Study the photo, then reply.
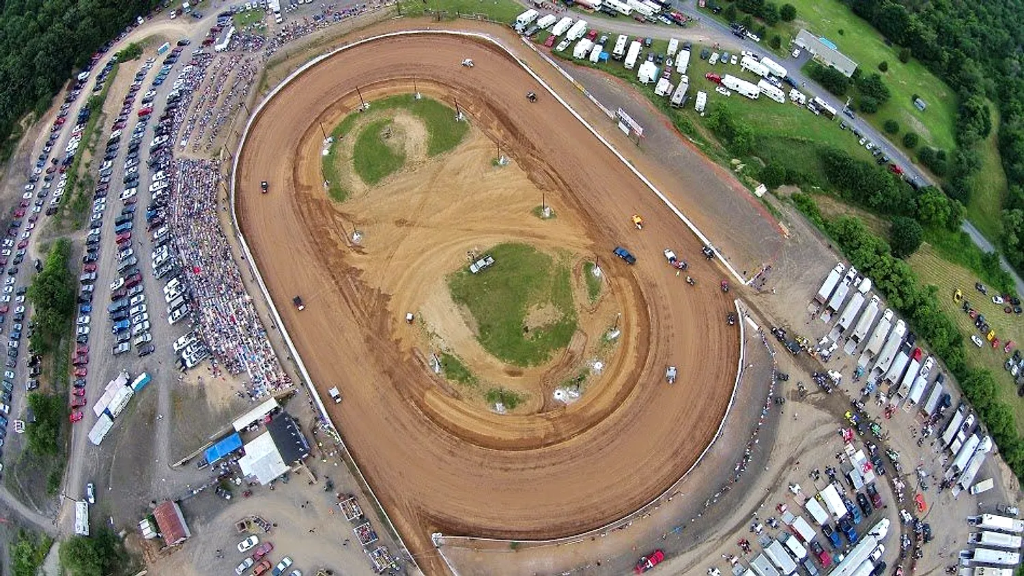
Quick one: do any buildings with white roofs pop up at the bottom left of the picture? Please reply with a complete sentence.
Yes, the scene does show a building with a white roof at the bottom left of the picture.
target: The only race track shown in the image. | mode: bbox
[233,32,746,539]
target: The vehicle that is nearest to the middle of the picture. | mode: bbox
[470,255,494,272]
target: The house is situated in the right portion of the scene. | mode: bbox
[792,29,858,80]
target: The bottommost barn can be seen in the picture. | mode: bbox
[153,502,198,547]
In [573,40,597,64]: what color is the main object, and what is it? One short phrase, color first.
white camper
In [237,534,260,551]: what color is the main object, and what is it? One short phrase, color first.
white car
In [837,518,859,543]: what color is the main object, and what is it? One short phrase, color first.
blue truck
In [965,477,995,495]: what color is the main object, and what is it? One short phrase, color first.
white vehicle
